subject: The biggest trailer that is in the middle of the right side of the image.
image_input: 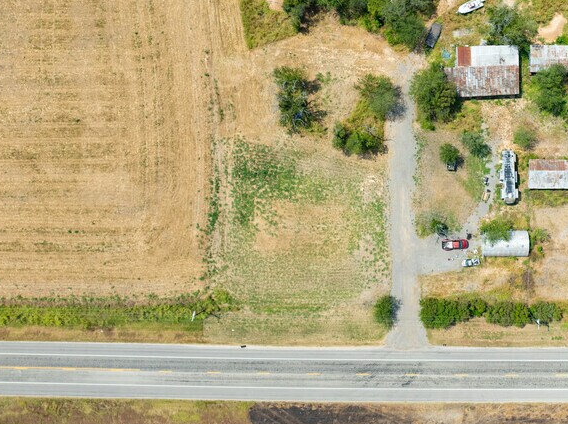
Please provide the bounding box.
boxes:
[499,151,518,203]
